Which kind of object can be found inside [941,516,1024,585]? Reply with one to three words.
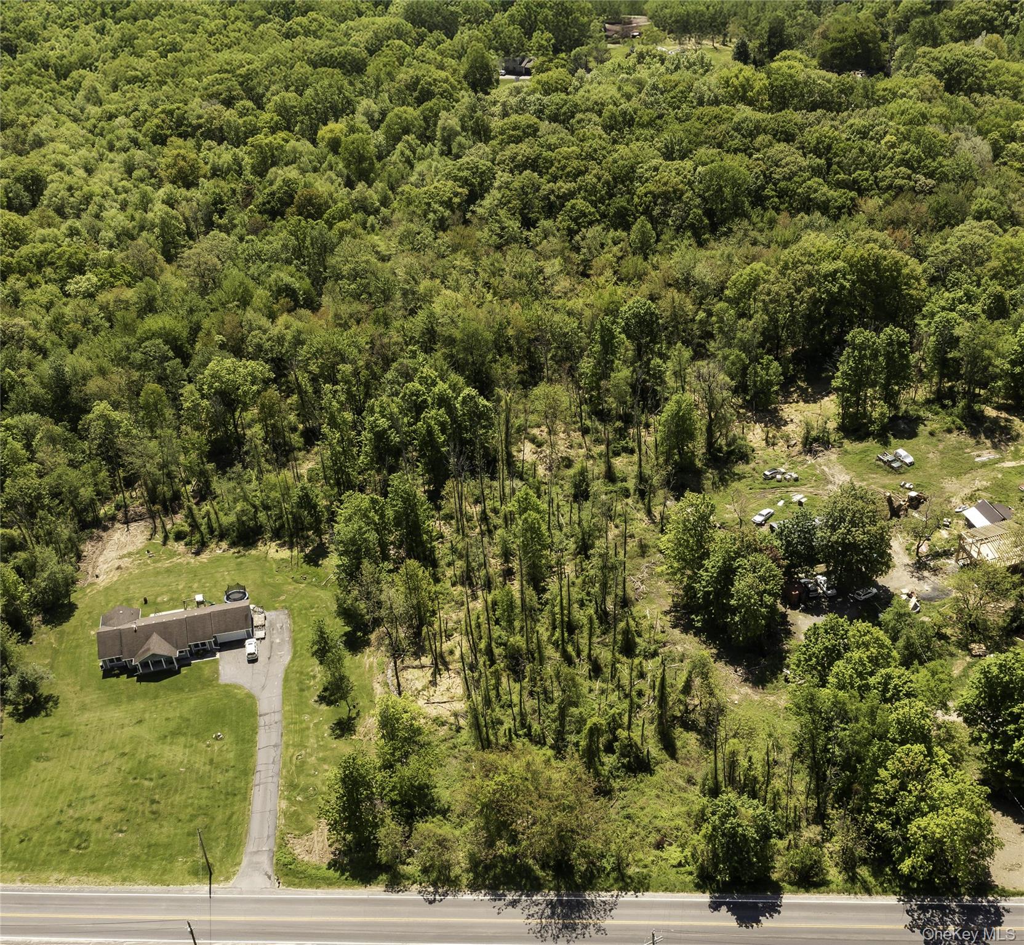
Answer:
building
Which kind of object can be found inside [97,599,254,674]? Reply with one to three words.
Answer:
house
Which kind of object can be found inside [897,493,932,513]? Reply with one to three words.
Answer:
work vehicle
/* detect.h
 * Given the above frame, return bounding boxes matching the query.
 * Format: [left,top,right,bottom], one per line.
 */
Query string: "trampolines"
[224,583,248,603]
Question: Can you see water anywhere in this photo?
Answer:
No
